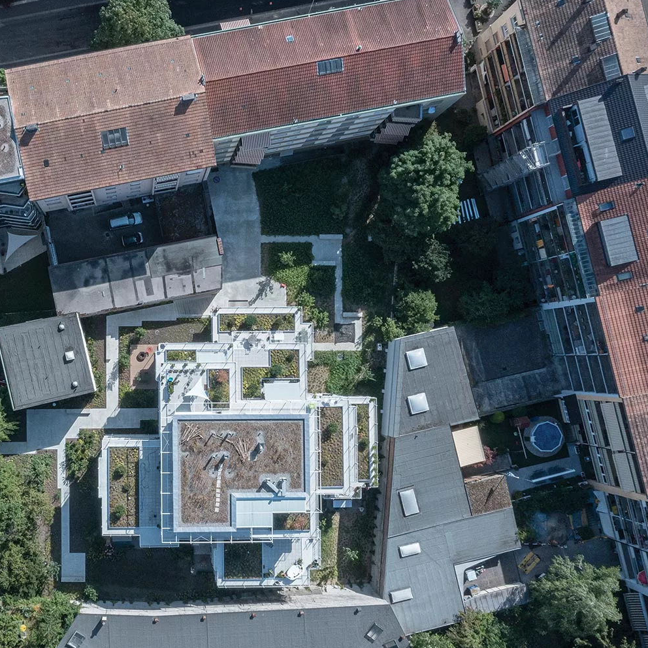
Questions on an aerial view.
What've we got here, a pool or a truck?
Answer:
pool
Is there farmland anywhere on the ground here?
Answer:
No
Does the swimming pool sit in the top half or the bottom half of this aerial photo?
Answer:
bottom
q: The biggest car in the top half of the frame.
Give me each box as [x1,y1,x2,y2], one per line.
[108,211,144,229]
